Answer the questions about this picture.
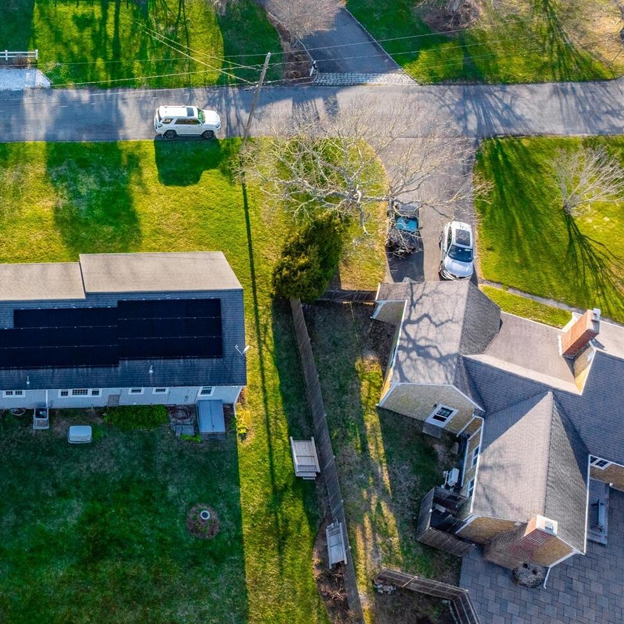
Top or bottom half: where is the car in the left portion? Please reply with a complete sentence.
You can find the car in the left portion in the top half.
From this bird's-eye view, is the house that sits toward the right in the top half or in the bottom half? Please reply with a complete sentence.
The house that sits toward the right is in the bottom half of the image.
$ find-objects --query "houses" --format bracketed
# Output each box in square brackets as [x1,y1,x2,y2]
[0,251,249,415]
[371,278,624,580]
